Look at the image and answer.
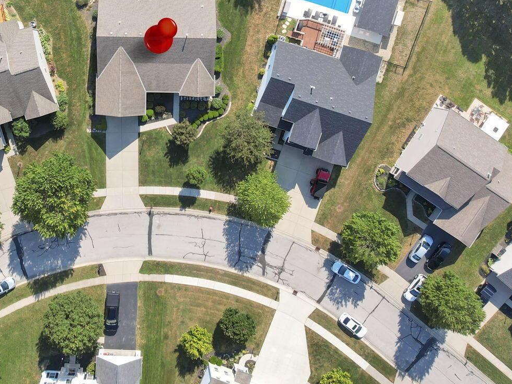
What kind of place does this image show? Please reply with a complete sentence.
It's a residential area.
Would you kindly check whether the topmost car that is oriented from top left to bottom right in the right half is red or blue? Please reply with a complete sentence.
The topmost car that is oriented from top left to bottom right in the right half looks blue in the image.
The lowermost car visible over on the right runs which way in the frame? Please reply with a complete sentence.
In this picture, the lowermost car visible over on the right lies on a diagonal.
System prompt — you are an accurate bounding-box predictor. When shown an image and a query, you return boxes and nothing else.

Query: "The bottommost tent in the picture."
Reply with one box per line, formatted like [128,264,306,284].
[476,110,509,142]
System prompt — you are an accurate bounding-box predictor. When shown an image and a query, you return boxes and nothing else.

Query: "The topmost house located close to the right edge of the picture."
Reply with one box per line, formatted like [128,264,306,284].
[394,109,512,248]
